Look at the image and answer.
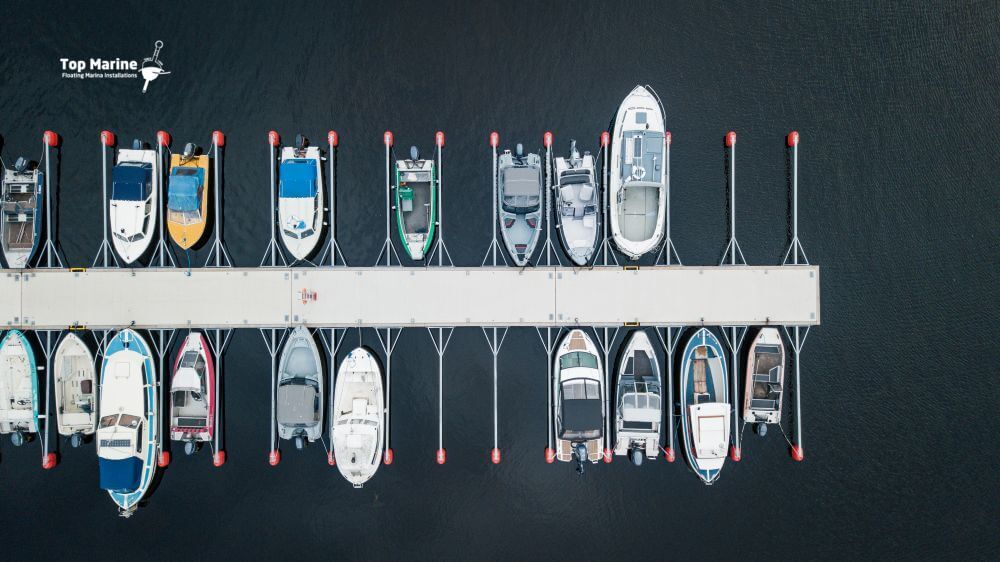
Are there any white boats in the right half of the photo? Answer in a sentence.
Yes, the scene does show a white boat in the right half of the photo.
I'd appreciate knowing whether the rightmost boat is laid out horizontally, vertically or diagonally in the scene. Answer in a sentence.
The rightmost boat runs vertically in the image.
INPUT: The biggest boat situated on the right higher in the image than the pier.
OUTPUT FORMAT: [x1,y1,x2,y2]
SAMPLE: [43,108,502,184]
[608,85,666,260]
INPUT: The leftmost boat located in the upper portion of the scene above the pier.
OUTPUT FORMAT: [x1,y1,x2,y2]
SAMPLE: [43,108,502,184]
[0,150,46,268]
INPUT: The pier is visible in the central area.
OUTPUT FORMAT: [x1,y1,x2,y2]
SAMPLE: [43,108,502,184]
[0,265,819,329]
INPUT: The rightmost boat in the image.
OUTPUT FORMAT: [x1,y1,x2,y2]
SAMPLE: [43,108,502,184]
[742,327,785,436]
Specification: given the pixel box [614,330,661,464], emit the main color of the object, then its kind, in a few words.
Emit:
white boat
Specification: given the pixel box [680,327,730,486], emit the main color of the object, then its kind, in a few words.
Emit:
white boat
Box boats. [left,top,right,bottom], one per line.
[110,139,159,265]
[395,146,438,261]
[497,143,542,267]
[167,138,211,250]
[277,326,323,450]
[53,333,101,447]
[680,327,730,486]
[742,327,785,436]
[0,150,46,268]
[278,133,324,261]
[554,329,605,471]
[608,85,666,260]
[98,328,159,518]
[172,332,220,454]
[0,330,46,445]
[333,347,386,488]
[614,330,661,464]
[555,131,601,266]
